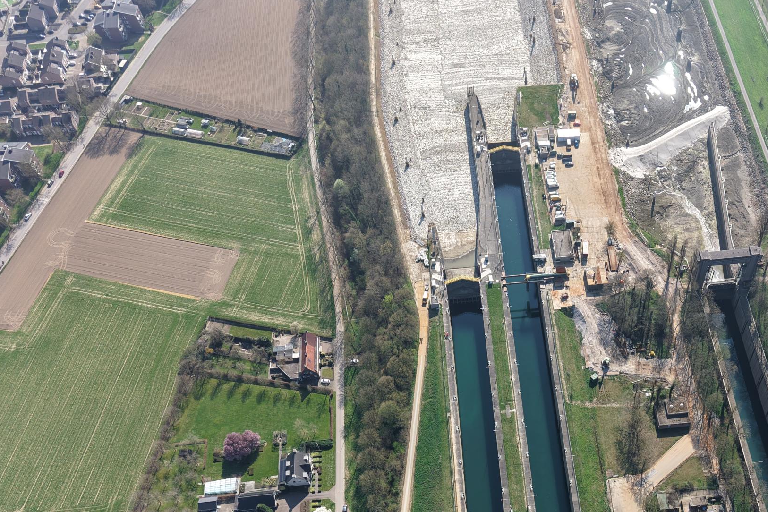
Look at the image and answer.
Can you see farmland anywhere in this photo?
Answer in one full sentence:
Yes, farmland can be seen from above here.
